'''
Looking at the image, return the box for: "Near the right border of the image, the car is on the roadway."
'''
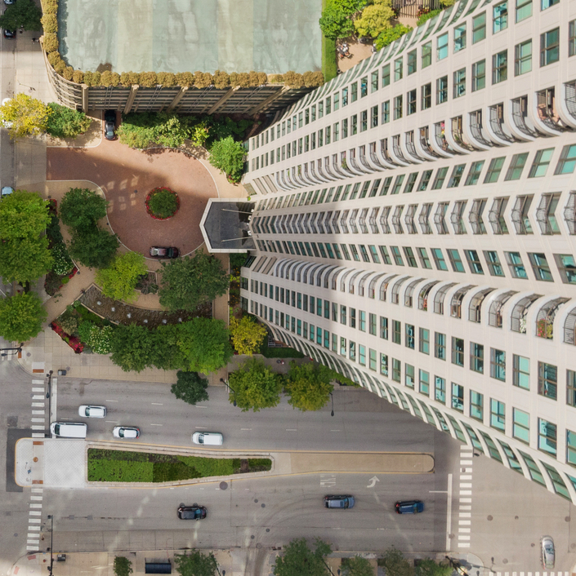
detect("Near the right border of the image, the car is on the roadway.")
[537,536,553,567]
